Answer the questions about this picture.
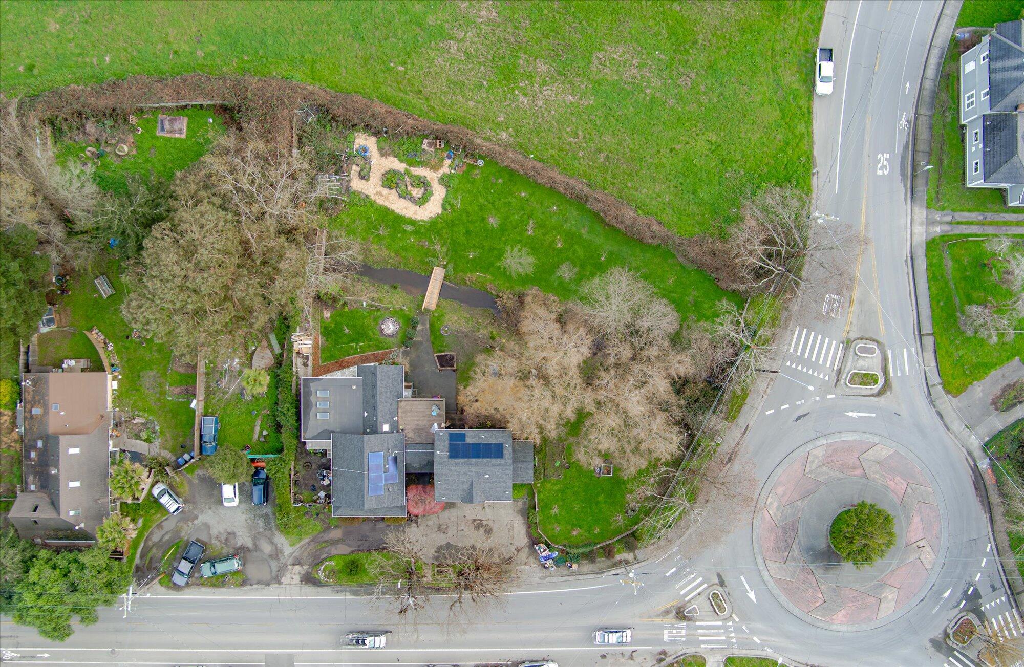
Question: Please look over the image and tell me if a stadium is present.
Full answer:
No, I can see no stadium in this picture.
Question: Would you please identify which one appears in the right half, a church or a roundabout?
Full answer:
You can see a roundabout in the right half.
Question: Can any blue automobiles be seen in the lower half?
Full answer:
Yes, looking in the lower half, one can make out a blue automobile.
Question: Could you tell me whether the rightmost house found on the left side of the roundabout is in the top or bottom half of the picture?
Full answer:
It is in the bottom half that the rightmost house found on the left side of the roundabout appears.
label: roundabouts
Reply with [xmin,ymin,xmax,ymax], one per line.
[752,433,950,631]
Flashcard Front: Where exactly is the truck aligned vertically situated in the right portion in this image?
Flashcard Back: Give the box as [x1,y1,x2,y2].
[813,47,836,97]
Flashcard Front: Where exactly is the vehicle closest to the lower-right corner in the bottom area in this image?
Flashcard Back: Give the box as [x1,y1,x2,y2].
[593,626,632,647]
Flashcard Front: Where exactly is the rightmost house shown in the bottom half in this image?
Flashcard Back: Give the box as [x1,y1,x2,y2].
[405,429,533,504]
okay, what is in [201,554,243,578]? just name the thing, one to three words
car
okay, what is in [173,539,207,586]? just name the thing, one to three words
truck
